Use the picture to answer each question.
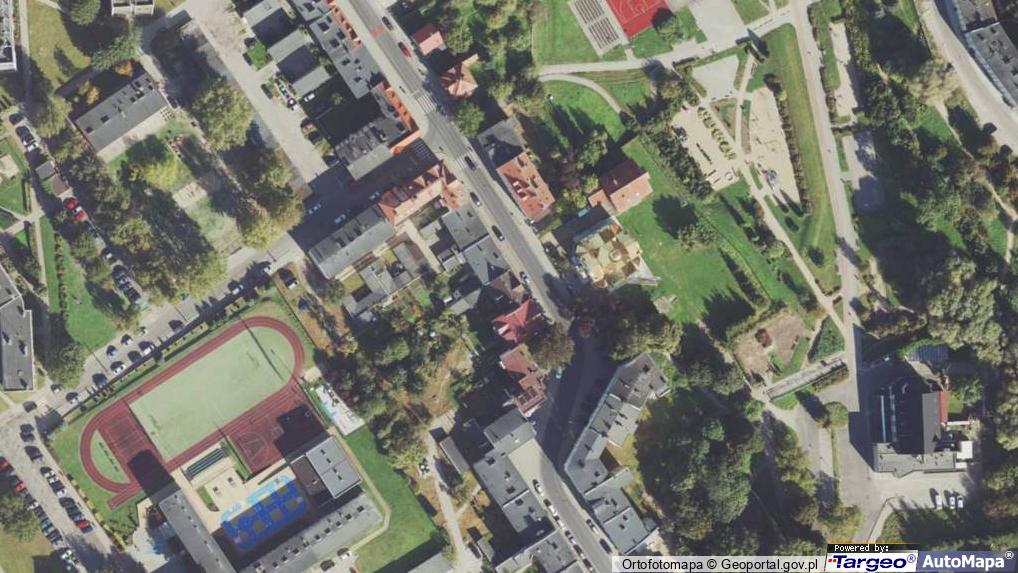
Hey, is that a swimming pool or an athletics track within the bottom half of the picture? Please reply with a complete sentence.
You can see an athletics track within the bottom half of the picture.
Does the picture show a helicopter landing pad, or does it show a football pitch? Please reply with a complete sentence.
The one in the frame is a football pitch.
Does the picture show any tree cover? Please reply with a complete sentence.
Yes, there is tree cover in the image.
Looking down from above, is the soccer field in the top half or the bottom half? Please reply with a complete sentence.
It is in the bottom half that the soccer field appears.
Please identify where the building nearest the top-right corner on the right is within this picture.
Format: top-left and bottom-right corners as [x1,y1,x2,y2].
[947,0,999,34]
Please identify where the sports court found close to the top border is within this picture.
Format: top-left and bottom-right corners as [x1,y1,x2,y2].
[604,0,682,40]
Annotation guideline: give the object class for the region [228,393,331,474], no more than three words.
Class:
basketball court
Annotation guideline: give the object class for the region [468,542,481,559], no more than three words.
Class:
vehicle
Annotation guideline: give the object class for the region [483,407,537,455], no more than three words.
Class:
house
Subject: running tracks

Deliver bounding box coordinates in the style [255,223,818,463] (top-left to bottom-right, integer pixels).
[79,316,311,509]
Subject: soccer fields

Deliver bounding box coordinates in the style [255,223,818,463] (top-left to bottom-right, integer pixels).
[90,327,295,481]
